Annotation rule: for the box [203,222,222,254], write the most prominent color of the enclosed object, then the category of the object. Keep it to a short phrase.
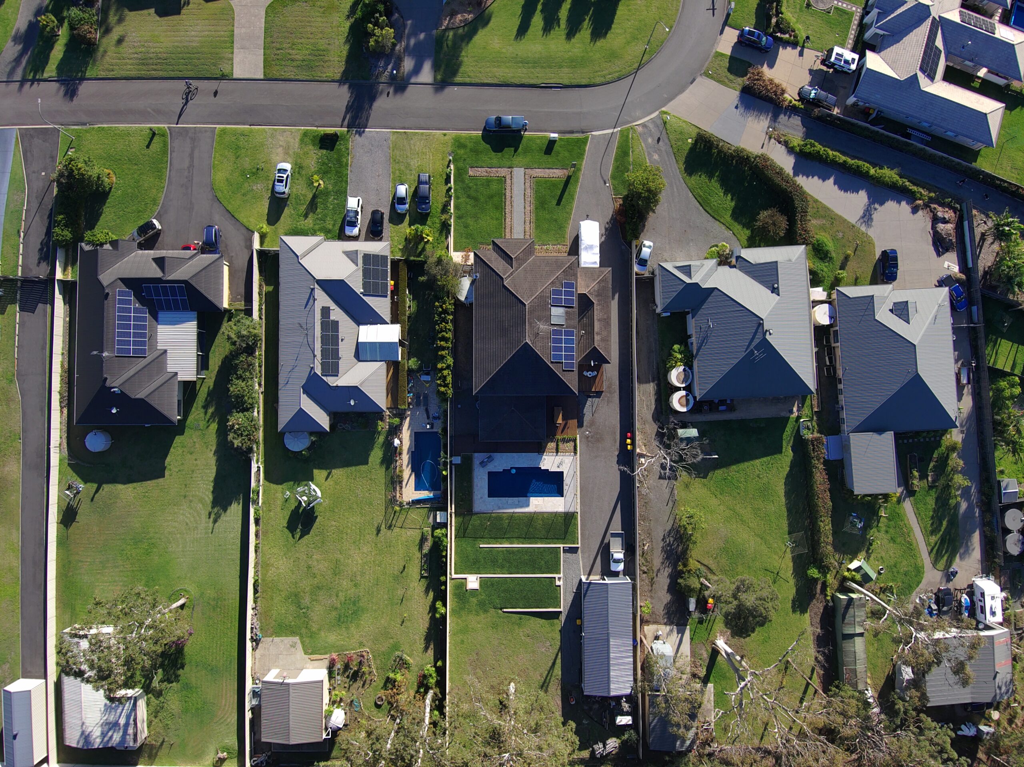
blue car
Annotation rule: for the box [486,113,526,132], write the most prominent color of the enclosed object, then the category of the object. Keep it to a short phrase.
blue vehicle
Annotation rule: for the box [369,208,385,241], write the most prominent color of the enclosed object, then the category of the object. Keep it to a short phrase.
black car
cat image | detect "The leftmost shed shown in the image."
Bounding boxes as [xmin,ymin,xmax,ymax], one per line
[3,681,47,767]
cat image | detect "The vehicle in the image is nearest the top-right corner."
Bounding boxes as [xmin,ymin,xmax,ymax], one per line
[814,47,862,78]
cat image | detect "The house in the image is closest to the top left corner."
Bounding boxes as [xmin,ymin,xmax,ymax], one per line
[74,239,228,425]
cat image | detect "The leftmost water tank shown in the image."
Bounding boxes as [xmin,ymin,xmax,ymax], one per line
[86,425,121,455]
